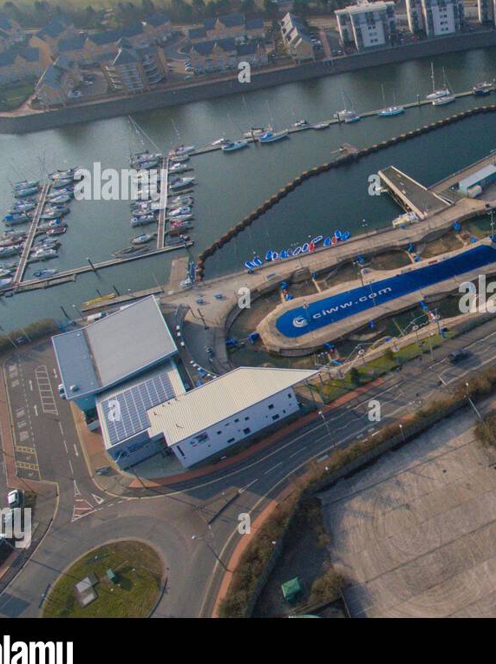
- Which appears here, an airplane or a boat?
boat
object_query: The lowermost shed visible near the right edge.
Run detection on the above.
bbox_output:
[455,161,496,193]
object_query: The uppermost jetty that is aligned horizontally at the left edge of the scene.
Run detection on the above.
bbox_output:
[0,239,194,293]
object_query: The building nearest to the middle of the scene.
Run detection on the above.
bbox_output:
[52,297,326,465]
